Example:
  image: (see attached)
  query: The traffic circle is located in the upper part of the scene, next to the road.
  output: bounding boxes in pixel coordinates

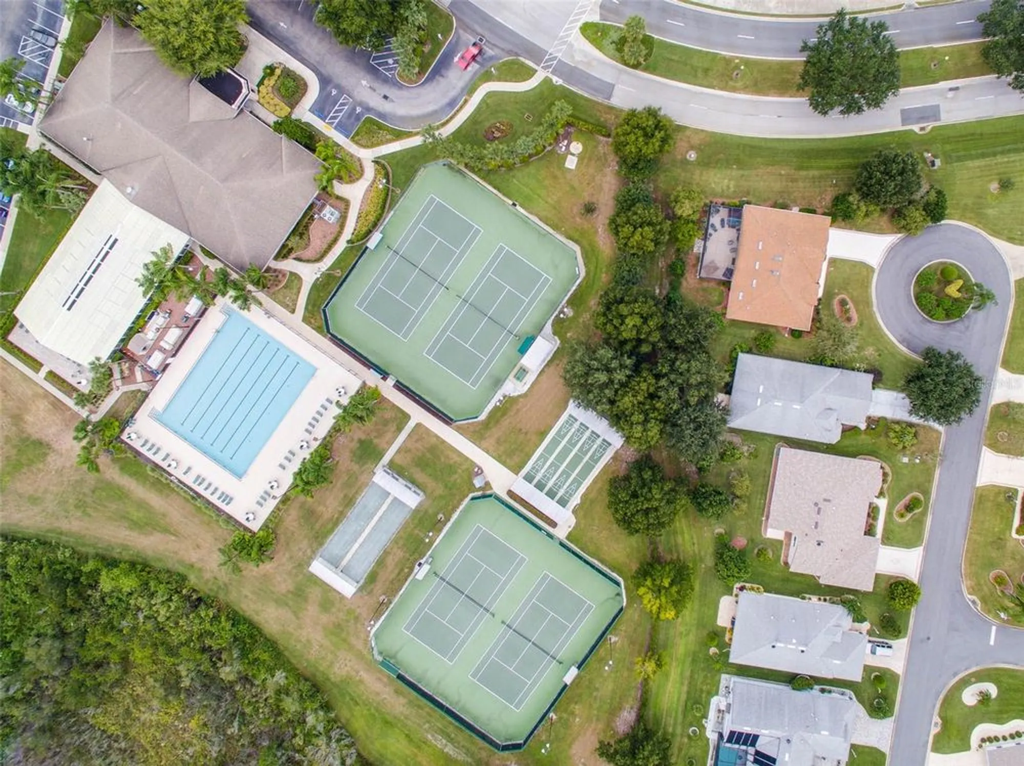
[910,258,977,323]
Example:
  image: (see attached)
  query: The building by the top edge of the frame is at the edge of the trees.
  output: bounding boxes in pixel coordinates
[38,22,321,268]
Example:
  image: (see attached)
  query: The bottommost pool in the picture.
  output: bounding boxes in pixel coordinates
[715,746,740,766]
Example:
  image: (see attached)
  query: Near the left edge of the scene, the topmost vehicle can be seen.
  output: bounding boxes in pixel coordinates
[25,26,56,47]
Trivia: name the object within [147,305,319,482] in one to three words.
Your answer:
swimming pool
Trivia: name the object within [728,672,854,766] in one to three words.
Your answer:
house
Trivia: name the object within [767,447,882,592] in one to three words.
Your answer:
house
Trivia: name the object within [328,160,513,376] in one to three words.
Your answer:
tennis court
